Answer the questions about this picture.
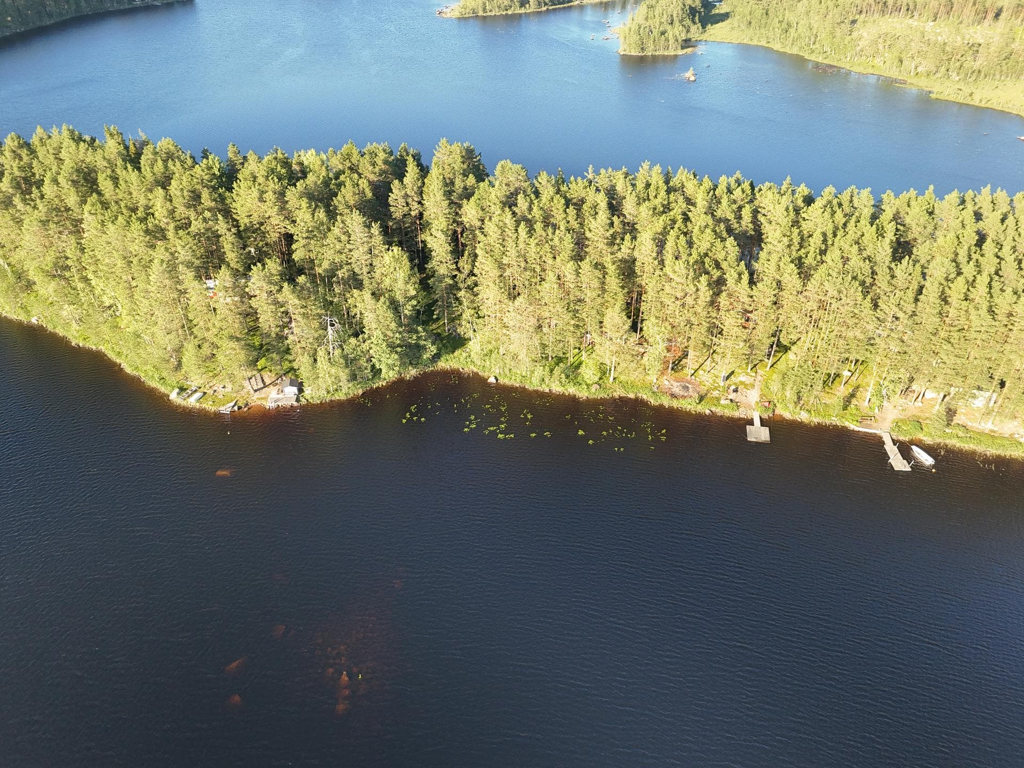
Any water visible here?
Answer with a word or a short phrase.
Yes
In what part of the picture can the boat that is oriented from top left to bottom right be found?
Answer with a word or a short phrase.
right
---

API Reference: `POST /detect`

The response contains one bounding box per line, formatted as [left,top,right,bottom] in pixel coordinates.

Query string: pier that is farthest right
[881,432,914,472]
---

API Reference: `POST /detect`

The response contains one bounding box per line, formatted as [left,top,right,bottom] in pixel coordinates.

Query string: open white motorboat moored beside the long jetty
[910,444,938,467]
